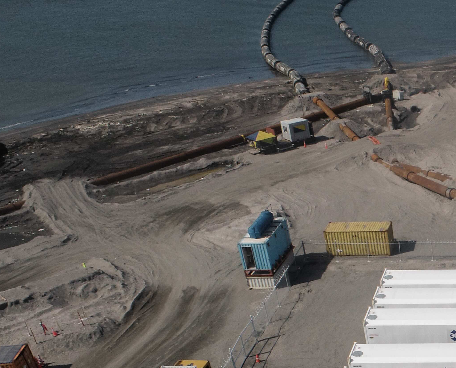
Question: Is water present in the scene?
Yes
